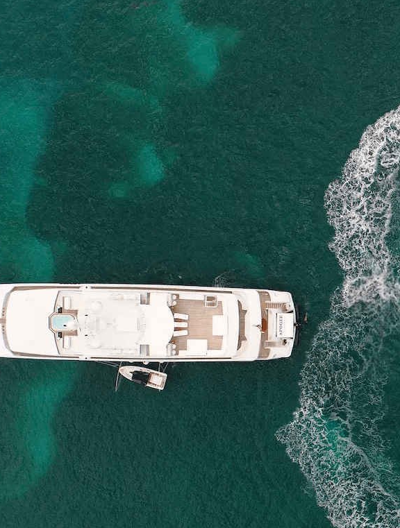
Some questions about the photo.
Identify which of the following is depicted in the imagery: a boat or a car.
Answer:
boat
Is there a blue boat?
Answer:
No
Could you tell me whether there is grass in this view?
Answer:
No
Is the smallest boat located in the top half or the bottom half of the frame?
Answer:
bottom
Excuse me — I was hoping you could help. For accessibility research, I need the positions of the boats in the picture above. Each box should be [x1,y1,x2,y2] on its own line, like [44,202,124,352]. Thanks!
[0,283,307,392]
[119,365,167,394]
